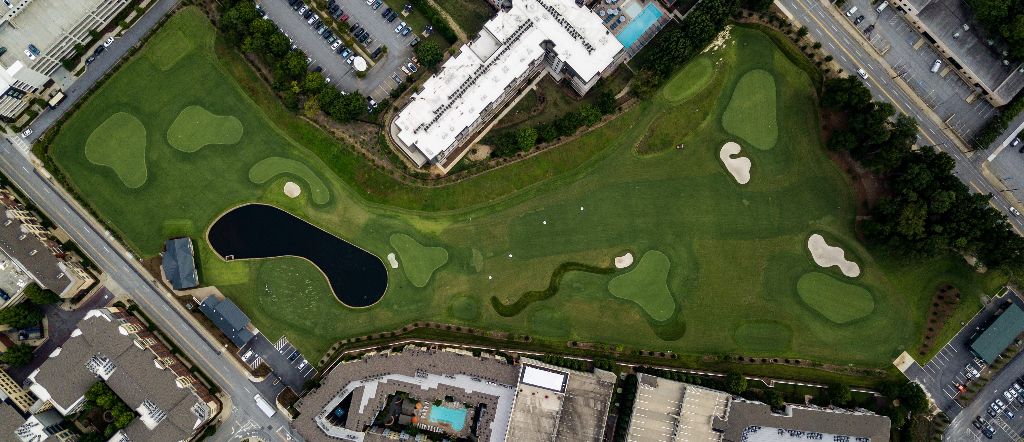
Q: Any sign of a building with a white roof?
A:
Yes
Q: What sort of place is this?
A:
golf course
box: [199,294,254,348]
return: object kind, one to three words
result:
building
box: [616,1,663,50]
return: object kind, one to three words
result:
swimming pool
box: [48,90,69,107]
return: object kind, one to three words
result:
vehicle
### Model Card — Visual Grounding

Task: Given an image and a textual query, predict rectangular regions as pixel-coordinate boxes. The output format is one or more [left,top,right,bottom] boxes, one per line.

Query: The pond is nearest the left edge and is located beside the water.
[205,202,388,309]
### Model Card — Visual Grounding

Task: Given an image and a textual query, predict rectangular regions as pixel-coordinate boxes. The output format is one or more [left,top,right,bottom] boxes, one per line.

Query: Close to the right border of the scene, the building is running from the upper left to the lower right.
[888,0,1024,106]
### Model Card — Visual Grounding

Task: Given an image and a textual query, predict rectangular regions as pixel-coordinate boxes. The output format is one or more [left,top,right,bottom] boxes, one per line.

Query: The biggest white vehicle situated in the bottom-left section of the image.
[255,394,279,419]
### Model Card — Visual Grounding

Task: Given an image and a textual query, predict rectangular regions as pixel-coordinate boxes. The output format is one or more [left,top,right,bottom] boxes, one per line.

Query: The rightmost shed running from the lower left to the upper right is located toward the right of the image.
[965,303,1024,364]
